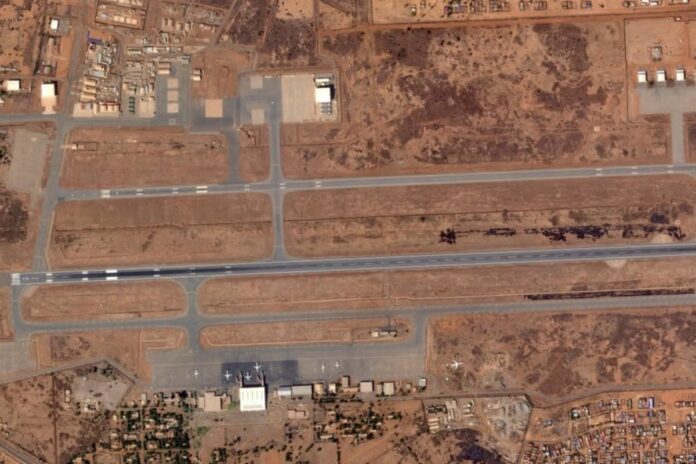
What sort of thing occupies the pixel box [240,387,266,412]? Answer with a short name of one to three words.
building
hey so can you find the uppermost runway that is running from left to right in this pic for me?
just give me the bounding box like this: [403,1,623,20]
[57,162,696,200]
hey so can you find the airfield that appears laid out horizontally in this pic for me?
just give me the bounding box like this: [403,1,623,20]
[0,58,696,391]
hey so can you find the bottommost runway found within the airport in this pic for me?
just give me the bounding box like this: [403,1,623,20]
[12,244,696,286]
